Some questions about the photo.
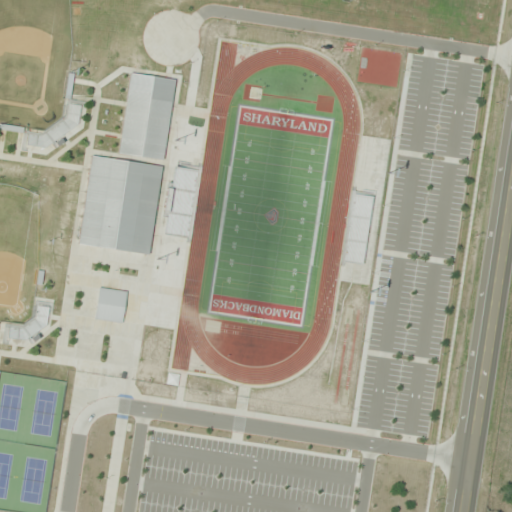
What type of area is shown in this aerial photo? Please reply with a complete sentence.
What you see here is a sports ground.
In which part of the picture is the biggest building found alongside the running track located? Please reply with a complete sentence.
The biggest building found alongside the running track is in the left part of the image.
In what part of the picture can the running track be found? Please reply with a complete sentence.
The running track is located in the center region of the scene.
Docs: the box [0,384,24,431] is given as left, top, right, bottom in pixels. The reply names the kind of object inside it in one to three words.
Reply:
tennis court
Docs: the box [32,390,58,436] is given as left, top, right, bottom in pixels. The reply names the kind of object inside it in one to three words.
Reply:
tennis court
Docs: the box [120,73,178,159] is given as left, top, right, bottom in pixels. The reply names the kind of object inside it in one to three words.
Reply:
building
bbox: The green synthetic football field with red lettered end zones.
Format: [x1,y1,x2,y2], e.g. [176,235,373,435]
[200,66,343,332]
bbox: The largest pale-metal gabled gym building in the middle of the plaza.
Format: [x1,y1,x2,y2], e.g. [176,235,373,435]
[79,156,164,253]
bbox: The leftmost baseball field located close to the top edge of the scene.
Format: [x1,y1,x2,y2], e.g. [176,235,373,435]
[0,0,56,114]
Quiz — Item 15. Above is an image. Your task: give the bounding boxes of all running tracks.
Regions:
[174,42,363,388]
